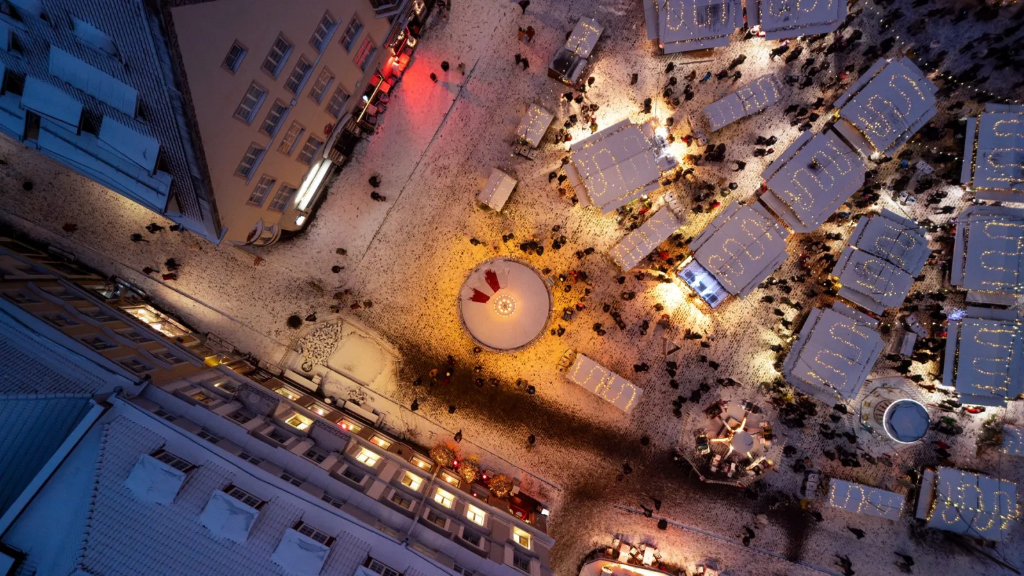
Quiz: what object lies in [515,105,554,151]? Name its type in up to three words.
shed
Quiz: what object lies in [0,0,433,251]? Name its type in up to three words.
house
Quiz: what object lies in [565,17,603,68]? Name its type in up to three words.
shed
